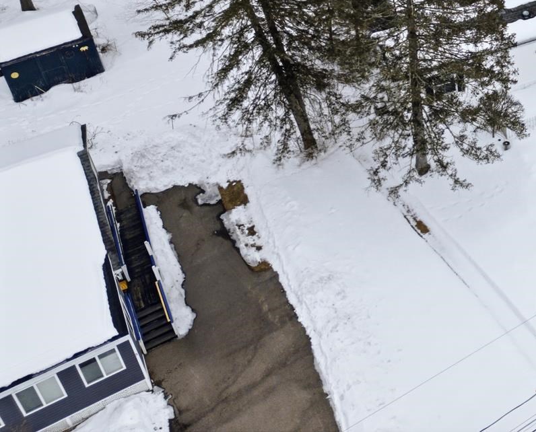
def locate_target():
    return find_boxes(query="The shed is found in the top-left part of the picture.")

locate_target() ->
[0,2,102,97]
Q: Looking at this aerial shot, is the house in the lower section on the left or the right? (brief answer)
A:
left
